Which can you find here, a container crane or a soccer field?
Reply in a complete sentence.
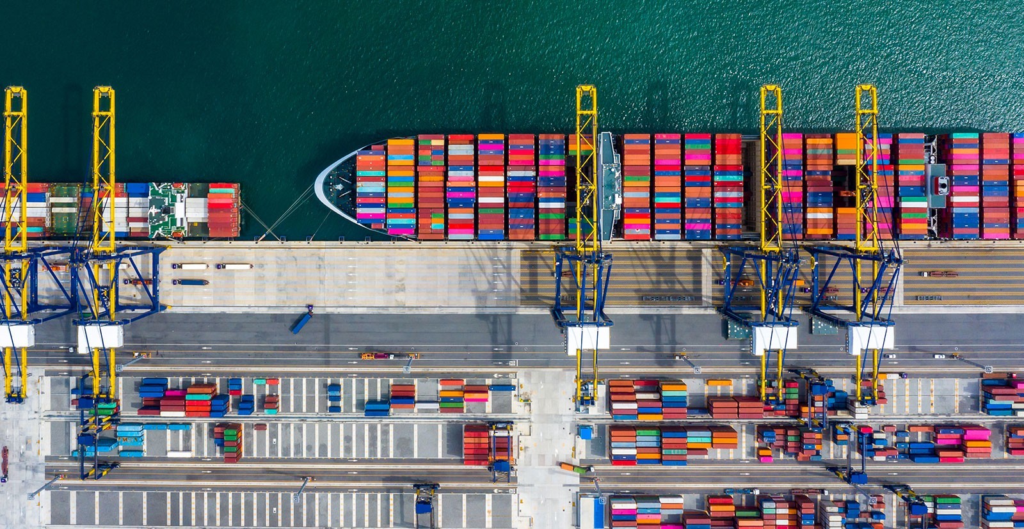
The one in the frame is a container crane.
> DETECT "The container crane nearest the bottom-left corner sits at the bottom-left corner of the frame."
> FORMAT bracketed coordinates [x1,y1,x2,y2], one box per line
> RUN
[78,419,123,486]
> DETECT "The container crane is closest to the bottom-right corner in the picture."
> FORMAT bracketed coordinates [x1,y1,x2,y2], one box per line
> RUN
[885,483,929,529]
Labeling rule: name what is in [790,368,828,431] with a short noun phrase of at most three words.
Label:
container crane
